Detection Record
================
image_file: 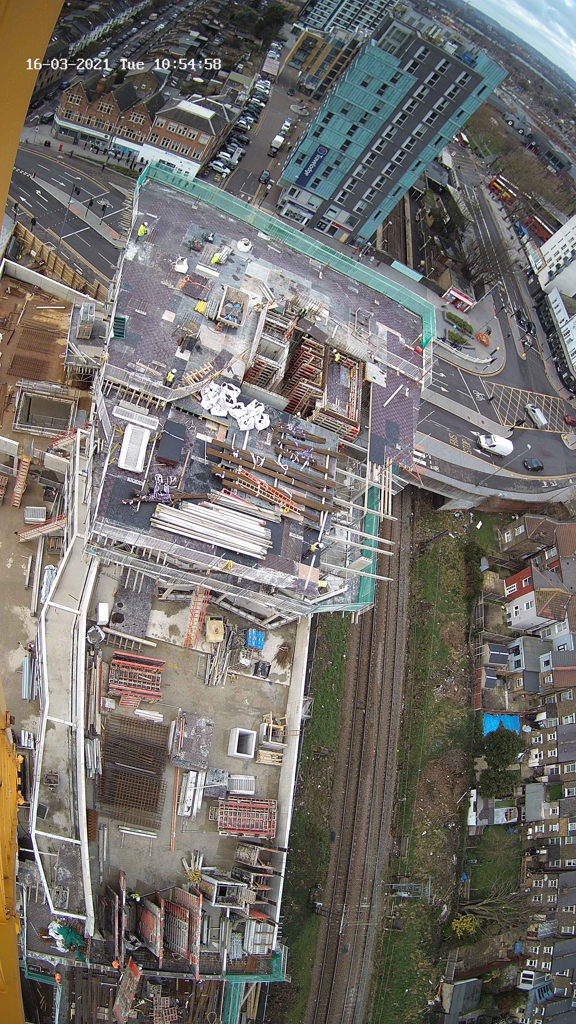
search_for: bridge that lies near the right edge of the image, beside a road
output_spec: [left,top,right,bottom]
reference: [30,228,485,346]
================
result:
[378,460,576,524]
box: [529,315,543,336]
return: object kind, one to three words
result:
car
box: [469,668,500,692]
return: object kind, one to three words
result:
shed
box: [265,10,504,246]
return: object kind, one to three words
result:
building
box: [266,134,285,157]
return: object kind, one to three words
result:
vehicle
